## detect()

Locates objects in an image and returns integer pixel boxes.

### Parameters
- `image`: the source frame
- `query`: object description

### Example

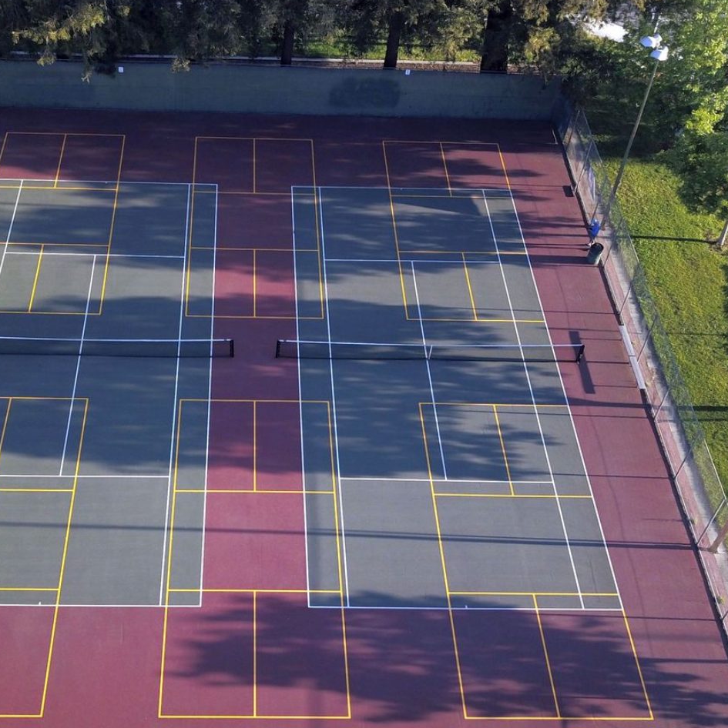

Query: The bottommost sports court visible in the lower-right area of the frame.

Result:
[420,404,652,720]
